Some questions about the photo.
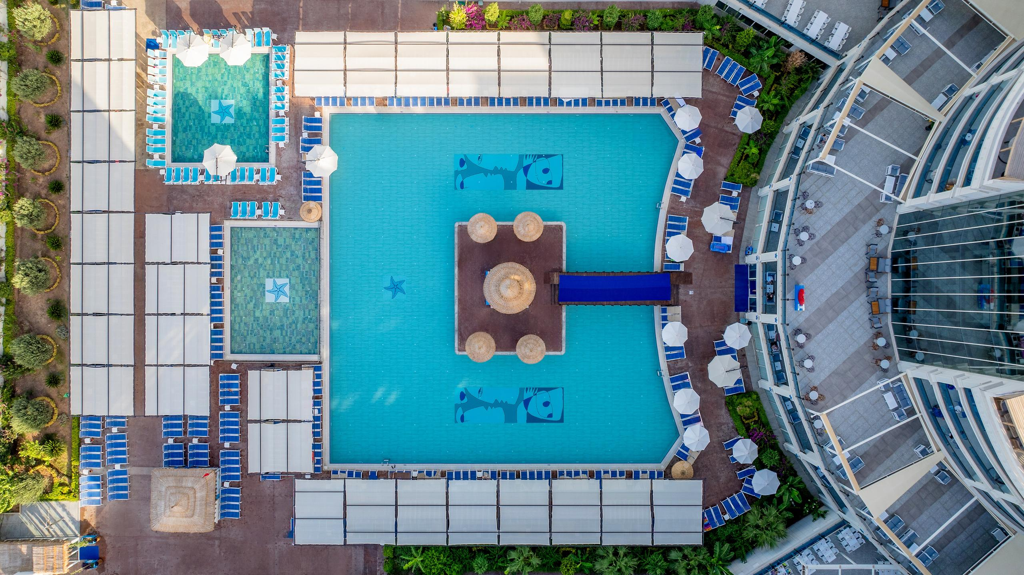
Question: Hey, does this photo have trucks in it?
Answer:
No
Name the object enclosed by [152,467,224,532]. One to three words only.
gazebo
